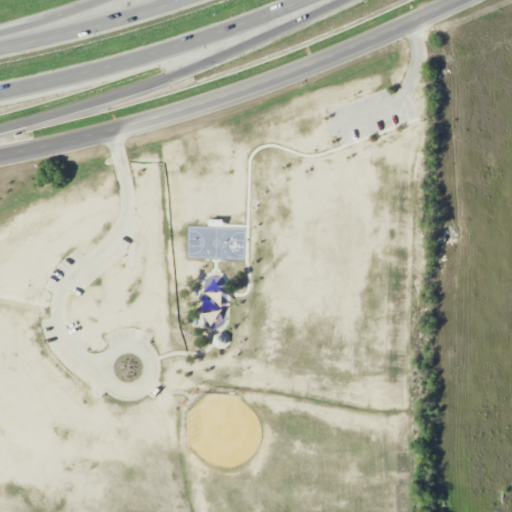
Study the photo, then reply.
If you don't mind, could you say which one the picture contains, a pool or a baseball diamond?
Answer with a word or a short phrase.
baseball diamond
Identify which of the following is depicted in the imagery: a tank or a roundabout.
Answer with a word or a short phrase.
roundabout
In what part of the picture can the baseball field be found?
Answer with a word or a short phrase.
bottom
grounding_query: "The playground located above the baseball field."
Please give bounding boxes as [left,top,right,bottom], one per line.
[198,270,230,335]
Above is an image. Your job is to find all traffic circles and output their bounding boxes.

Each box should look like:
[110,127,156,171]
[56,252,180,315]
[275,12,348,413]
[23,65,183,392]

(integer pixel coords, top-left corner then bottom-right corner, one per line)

[96,328,160,400]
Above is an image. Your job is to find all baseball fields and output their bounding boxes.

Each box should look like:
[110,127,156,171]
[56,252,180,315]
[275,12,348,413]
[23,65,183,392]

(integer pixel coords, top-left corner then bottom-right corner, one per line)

[183,390,262,468]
